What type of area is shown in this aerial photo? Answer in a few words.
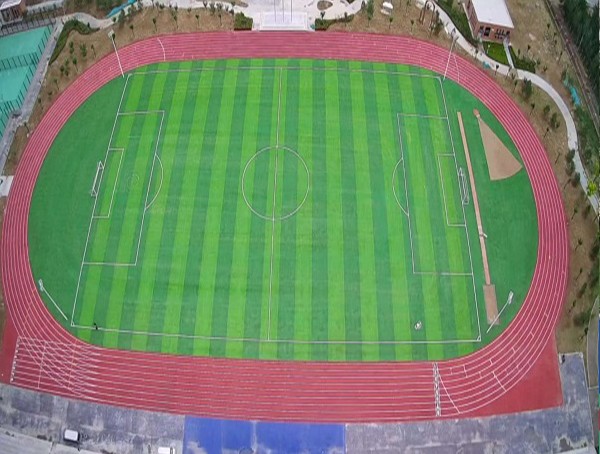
sports ground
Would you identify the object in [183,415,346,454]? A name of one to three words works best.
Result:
sports court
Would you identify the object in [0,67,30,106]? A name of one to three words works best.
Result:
sports court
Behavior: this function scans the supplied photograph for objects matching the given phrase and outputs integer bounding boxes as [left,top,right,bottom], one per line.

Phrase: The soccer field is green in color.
[28,60,538,362]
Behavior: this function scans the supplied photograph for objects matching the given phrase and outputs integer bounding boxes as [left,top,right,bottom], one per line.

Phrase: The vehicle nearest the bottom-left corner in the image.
[63,430,83,445]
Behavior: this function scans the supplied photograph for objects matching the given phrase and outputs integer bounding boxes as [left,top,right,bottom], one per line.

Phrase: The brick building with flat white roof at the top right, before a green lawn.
[459,0,515,46]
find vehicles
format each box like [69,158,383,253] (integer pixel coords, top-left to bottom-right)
[155,447,179,454]
[63,430,83,445]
